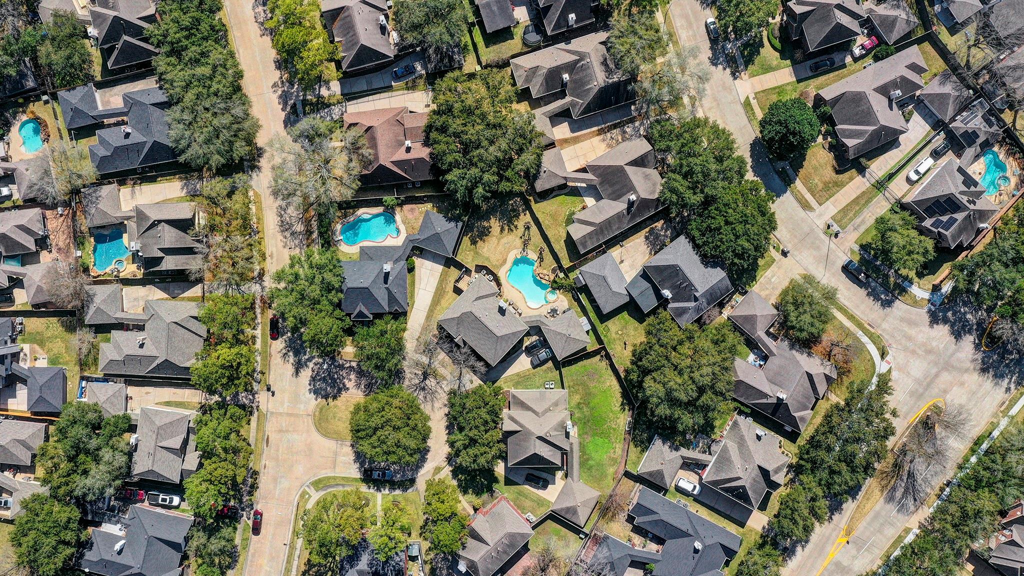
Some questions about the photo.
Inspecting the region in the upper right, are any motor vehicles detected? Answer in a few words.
Yes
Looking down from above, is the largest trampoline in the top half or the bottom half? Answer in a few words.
top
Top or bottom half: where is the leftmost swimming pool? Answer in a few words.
top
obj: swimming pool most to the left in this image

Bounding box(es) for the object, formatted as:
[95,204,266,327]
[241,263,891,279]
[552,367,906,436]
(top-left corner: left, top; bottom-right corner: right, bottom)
[15,115,47,157]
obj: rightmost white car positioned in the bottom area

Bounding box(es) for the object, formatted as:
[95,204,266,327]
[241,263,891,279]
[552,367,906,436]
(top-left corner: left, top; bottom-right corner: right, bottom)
[673,476,702,495]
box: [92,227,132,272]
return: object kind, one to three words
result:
swimming pool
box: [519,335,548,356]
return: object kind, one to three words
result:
car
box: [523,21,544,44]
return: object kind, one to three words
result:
trampoline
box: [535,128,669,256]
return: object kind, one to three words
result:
house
